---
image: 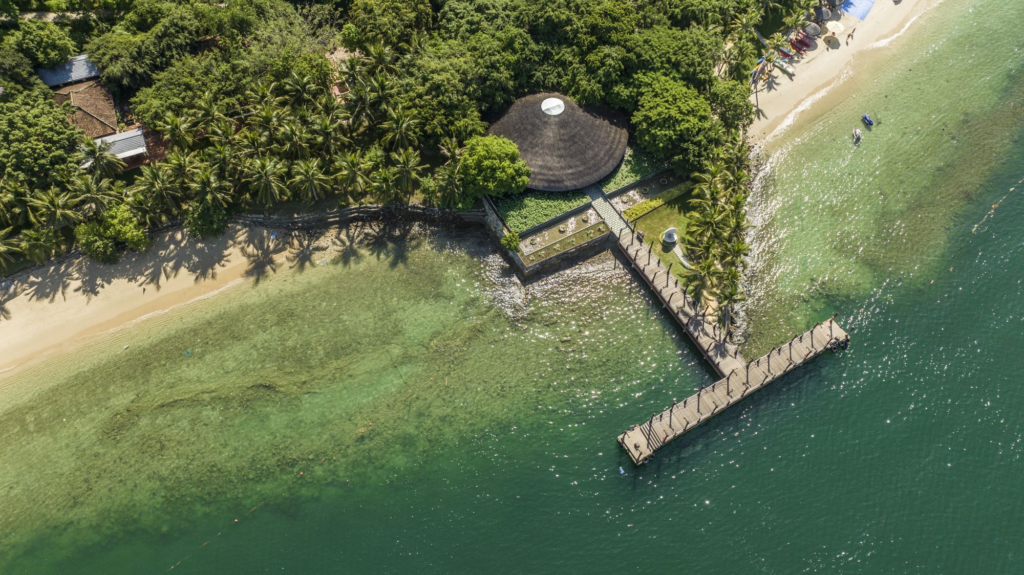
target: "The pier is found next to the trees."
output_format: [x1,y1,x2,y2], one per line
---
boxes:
[616,231,853,468]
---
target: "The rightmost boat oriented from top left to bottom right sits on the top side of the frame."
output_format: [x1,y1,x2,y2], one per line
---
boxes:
[859,111,875,126]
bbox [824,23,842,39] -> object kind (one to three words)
umbrella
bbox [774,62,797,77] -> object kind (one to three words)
boat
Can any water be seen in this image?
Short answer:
Yes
